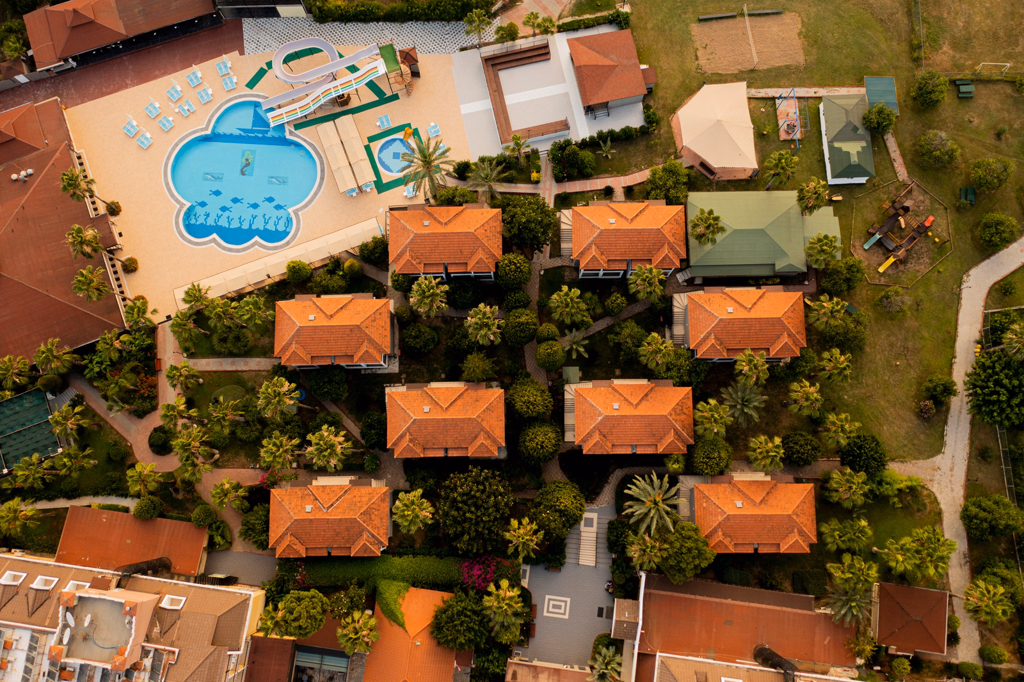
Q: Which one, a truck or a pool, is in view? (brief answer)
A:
pool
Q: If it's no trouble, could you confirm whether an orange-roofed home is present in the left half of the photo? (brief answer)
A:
Yes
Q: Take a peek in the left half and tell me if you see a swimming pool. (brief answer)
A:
Yes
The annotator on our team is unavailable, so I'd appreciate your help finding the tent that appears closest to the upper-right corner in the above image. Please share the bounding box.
[666,81,759,183]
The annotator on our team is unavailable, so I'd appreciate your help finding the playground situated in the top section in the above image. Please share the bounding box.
[861,181,950,273]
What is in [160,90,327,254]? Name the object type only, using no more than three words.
swimming pool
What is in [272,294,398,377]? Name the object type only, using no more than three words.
house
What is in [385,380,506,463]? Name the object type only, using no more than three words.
house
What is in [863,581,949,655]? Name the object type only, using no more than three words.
building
